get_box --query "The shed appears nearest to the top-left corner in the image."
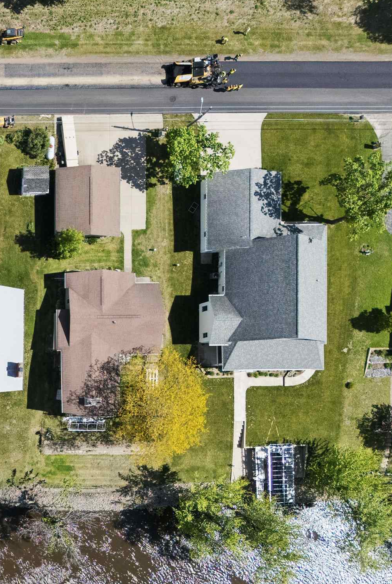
[19,165,50,198]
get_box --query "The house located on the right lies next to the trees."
[198,167,328,371]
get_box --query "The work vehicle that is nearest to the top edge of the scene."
[0,26,22,48]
